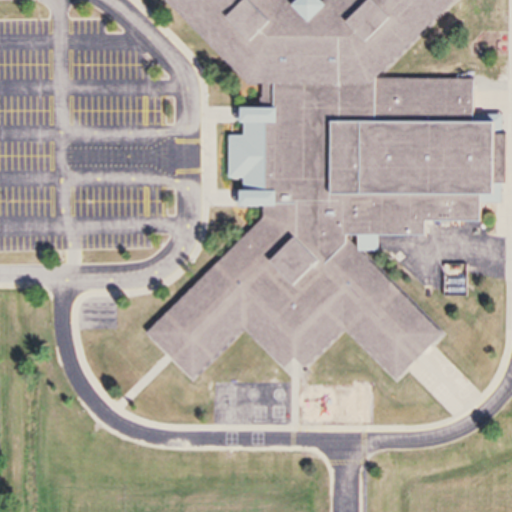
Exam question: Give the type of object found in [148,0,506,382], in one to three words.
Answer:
building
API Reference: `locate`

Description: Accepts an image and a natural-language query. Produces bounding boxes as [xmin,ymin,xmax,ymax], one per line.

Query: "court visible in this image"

[214,382,290,425]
